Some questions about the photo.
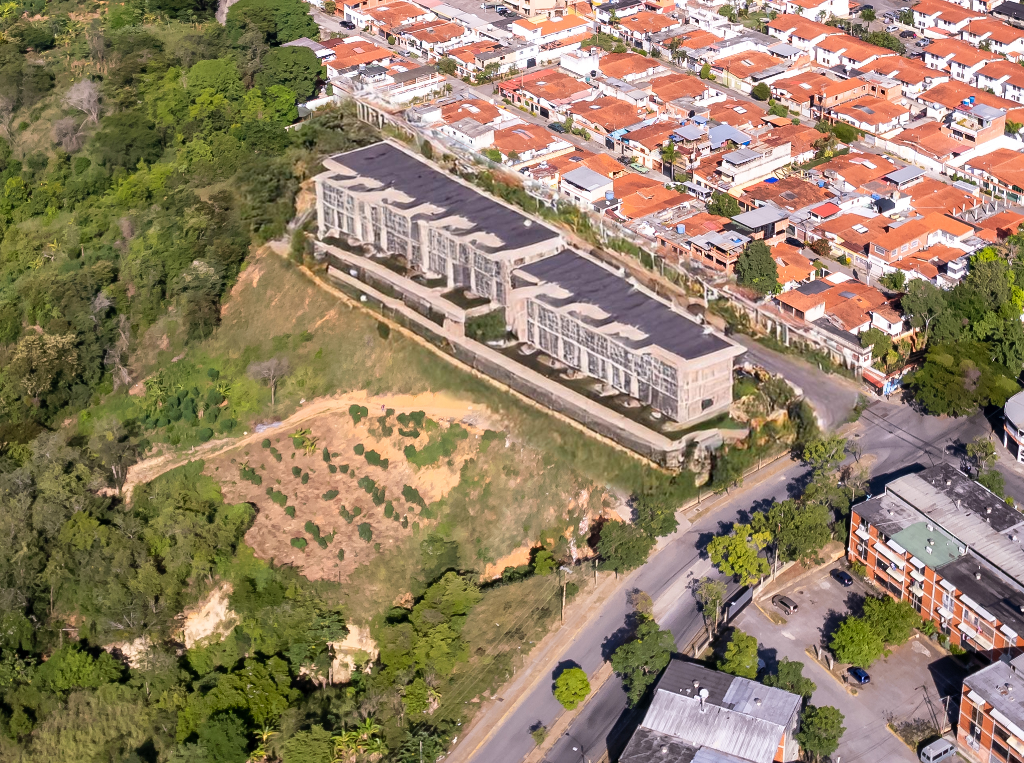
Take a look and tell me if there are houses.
Yes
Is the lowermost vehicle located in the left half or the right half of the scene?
right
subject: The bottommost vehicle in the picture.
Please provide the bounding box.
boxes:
[916,736,960,763]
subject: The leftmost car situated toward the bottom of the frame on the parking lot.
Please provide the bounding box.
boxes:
[768,593,802,614]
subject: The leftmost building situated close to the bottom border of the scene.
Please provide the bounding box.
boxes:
[620,656,811,763]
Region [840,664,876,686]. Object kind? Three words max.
car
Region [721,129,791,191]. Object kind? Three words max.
house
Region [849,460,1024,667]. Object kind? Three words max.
building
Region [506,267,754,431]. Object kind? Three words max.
building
